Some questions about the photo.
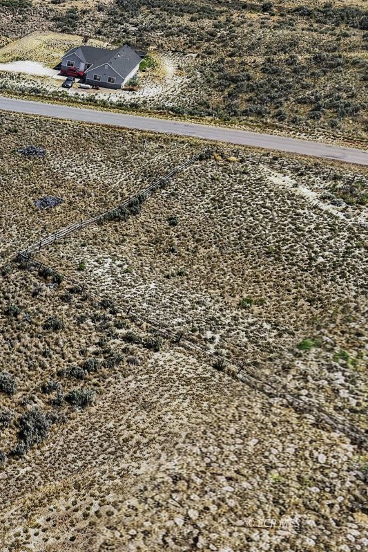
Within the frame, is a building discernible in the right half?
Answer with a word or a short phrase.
No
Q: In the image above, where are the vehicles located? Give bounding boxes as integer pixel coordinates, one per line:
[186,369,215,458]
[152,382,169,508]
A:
[62,76,76,86]
[58,66,87,77]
